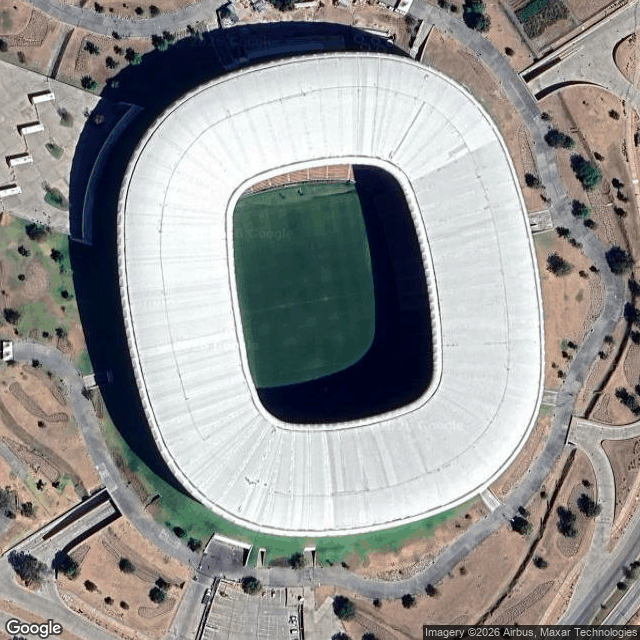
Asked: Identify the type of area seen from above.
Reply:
sports ground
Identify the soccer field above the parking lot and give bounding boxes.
[235,191,384,412]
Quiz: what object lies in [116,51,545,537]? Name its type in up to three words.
stadium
